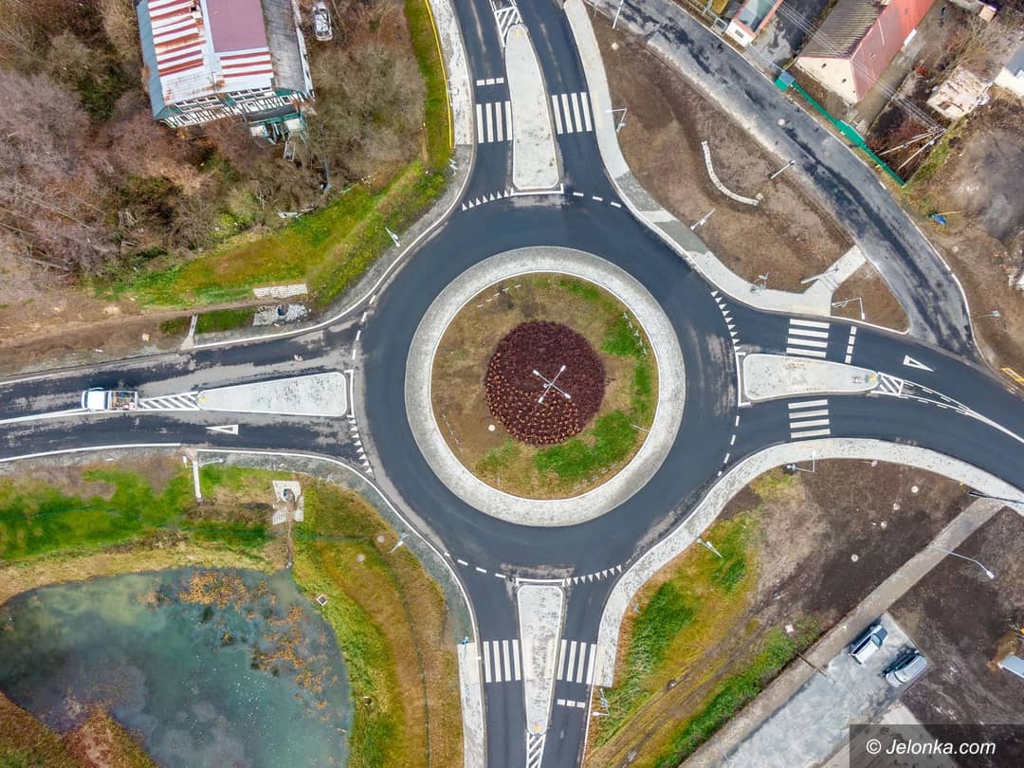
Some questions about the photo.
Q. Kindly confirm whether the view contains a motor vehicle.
Yes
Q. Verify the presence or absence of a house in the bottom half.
No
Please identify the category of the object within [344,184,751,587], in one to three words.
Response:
roundabout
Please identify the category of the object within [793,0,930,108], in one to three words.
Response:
house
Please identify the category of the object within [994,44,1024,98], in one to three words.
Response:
house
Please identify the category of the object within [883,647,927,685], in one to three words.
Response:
car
